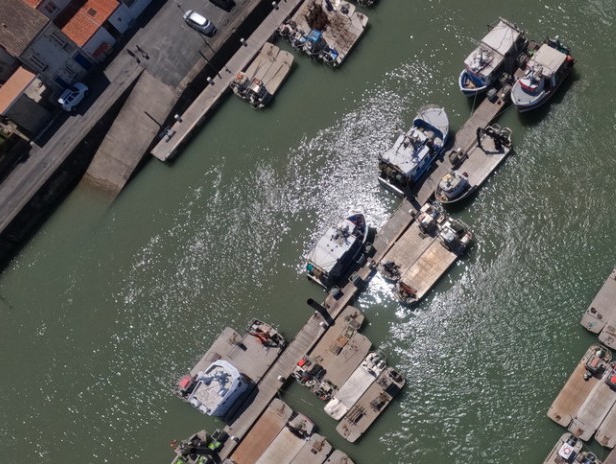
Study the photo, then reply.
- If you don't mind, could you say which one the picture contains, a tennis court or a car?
car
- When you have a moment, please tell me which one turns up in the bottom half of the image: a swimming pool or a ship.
ship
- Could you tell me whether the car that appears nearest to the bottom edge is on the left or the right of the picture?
left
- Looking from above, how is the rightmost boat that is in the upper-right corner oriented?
at an angle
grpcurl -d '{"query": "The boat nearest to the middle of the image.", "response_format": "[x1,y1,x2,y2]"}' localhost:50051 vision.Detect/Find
[304,211,367,292]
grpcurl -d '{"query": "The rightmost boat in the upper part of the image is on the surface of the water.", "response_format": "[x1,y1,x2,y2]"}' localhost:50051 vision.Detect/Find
[516,36,581,113]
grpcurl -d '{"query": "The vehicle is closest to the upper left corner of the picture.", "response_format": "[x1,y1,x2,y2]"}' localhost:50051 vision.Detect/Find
[58,83,93,115]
